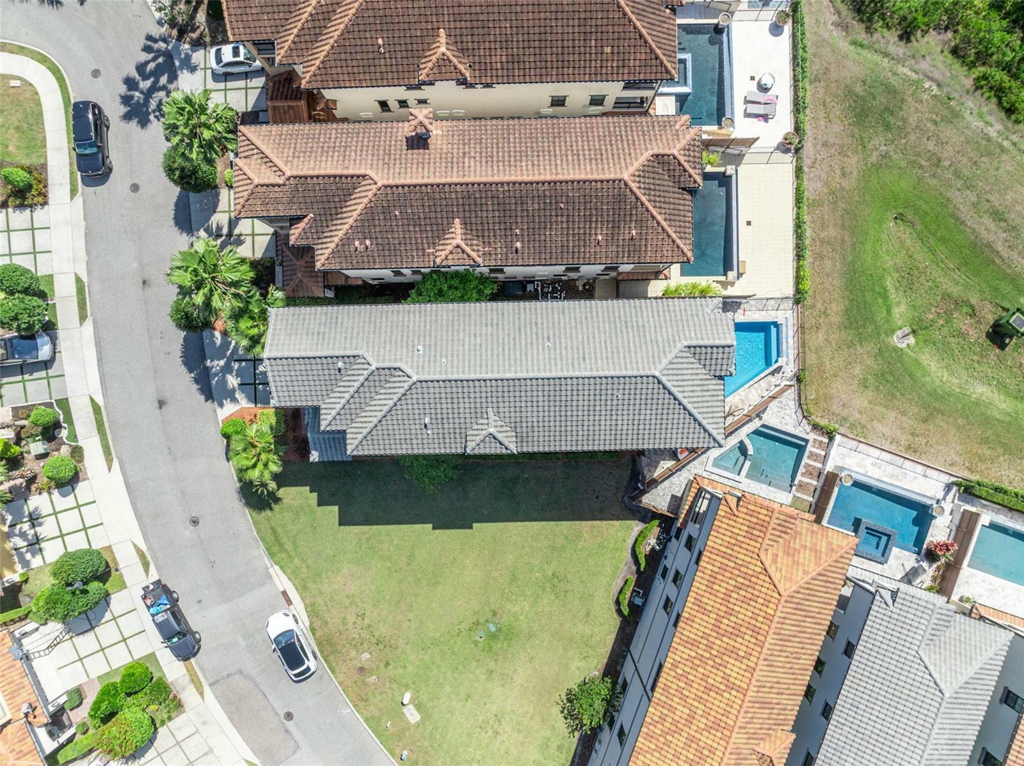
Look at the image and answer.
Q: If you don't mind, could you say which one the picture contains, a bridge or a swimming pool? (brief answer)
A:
swimming pool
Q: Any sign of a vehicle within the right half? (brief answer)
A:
No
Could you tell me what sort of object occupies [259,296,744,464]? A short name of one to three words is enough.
house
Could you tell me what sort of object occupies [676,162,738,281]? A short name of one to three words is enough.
swimming pool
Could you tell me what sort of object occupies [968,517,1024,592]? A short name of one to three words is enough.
swimming pool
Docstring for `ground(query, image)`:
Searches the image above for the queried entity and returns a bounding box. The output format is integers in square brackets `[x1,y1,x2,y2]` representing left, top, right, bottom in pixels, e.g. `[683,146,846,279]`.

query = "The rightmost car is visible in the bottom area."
[264,608,321,687]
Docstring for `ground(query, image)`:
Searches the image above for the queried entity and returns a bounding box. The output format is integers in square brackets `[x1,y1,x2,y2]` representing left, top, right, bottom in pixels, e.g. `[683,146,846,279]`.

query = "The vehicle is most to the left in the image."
[0,330,53,366]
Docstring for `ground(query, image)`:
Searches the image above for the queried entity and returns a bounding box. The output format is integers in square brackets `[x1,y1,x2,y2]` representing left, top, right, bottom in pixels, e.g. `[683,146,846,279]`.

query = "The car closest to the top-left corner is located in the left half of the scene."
[67,95,114,180]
